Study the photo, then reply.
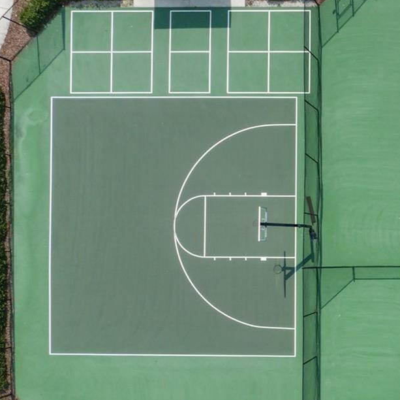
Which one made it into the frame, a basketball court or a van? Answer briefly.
basketball court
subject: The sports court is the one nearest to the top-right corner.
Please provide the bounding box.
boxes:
[227,10,310,94]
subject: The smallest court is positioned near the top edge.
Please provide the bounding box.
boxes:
[168,10,211,94]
